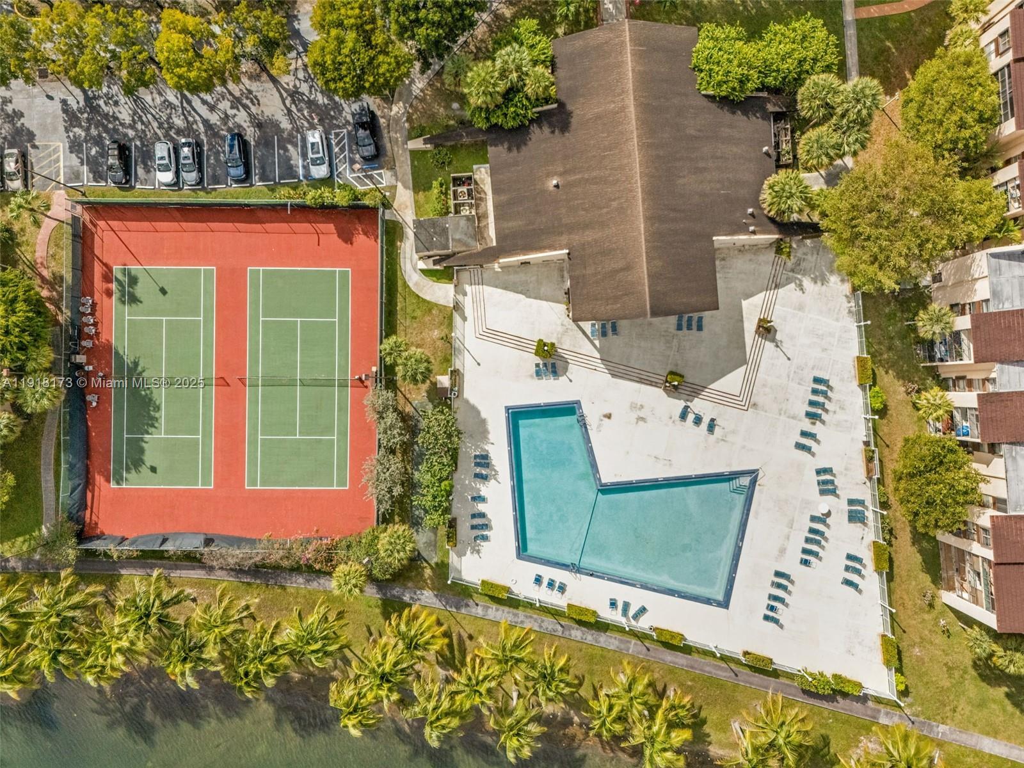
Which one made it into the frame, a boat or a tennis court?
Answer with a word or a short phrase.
tennis court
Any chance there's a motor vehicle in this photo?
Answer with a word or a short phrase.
Yes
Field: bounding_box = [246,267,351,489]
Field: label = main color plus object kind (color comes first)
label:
green tennis court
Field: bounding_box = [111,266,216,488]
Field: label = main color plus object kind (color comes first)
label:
green tennis court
